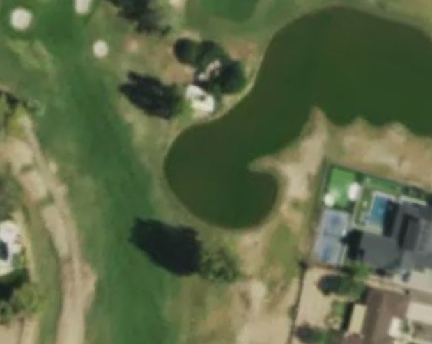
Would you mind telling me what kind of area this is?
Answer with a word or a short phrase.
golf course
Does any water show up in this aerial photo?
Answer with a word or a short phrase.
Yes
